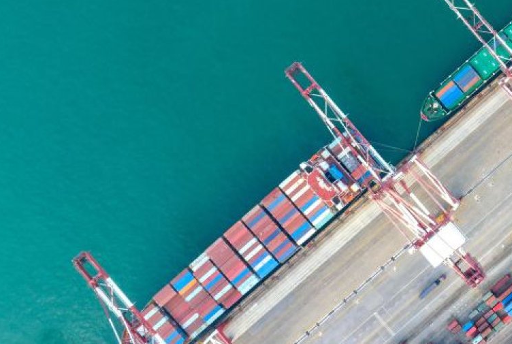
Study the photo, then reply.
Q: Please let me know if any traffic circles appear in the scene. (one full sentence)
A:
No, the photo shows no traffic circle.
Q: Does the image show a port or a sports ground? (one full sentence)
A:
What you see here is a port.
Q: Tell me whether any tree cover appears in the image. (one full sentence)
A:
No, tree cover can't be seen anywhere here.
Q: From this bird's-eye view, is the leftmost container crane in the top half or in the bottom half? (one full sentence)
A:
The leftmost container crane sits in the bottom half of the picture.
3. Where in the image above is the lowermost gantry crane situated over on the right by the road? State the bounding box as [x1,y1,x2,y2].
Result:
[285,63,485,288]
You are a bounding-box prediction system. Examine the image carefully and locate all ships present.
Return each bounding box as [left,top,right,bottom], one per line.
[114,125,391,344]
[422,18,512,120]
